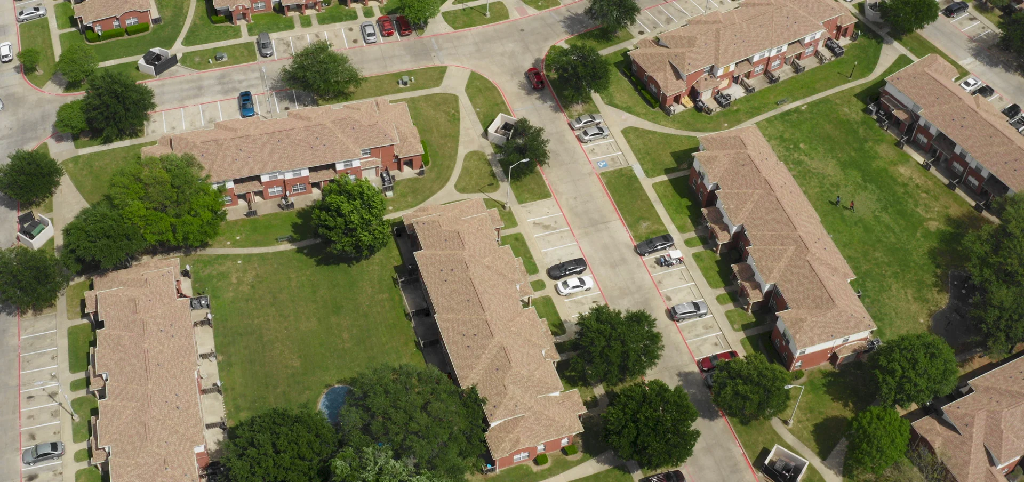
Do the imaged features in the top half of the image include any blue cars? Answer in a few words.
Yes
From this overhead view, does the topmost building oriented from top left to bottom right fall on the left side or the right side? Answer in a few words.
right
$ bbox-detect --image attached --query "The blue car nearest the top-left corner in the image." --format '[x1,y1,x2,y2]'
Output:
[239,91,255,117]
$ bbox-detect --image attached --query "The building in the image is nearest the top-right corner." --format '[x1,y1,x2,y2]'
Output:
[879,53,1024,214]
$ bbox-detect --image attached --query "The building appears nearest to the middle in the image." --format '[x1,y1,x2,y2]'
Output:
[401,198,586,471]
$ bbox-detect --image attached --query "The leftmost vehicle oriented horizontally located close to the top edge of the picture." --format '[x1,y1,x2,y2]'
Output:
[15,7,49,23]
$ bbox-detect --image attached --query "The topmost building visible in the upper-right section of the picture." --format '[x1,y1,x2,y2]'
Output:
[626,0,869,108]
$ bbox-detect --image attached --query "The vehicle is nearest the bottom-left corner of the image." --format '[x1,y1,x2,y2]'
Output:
[22,440,66,464]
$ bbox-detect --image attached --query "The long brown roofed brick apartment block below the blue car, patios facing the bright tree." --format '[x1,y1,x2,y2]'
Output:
[141,96,426,210]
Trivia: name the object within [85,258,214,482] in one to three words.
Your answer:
building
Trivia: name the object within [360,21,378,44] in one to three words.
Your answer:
car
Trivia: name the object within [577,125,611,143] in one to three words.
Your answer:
car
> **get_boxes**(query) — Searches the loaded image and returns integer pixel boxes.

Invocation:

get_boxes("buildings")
[626,0,869,108]
[879,53,1024,214]
[909,356,1024,482]
[141,96,426,210]
[85,258,214,482]
[213,0,327,24]
[68,0,159,30]
[401,198,586,471]
[691,124,877,370]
